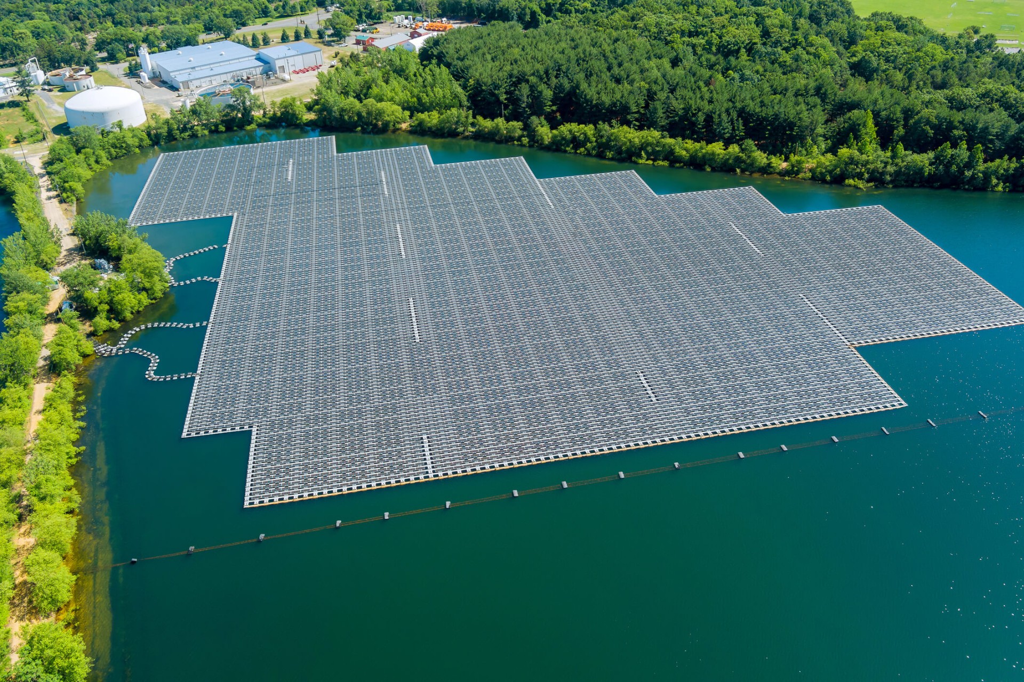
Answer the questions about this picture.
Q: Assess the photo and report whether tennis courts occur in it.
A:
No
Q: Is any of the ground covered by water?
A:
Yes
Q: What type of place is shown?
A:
solar farm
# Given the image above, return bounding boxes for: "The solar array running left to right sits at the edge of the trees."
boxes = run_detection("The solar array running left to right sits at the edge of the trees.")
[129,136,1024,509]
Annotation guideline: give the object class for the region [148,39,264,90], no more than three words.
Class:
building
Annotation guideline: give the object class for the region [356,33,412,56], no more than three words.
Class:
barn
